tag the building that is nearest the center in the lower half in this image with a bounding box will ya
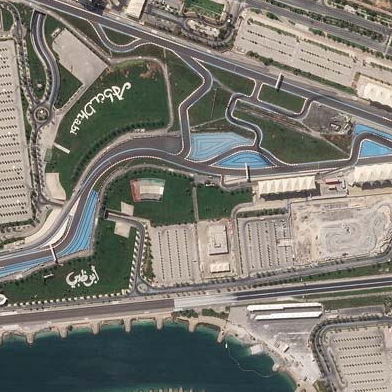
[208,224,228,255]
